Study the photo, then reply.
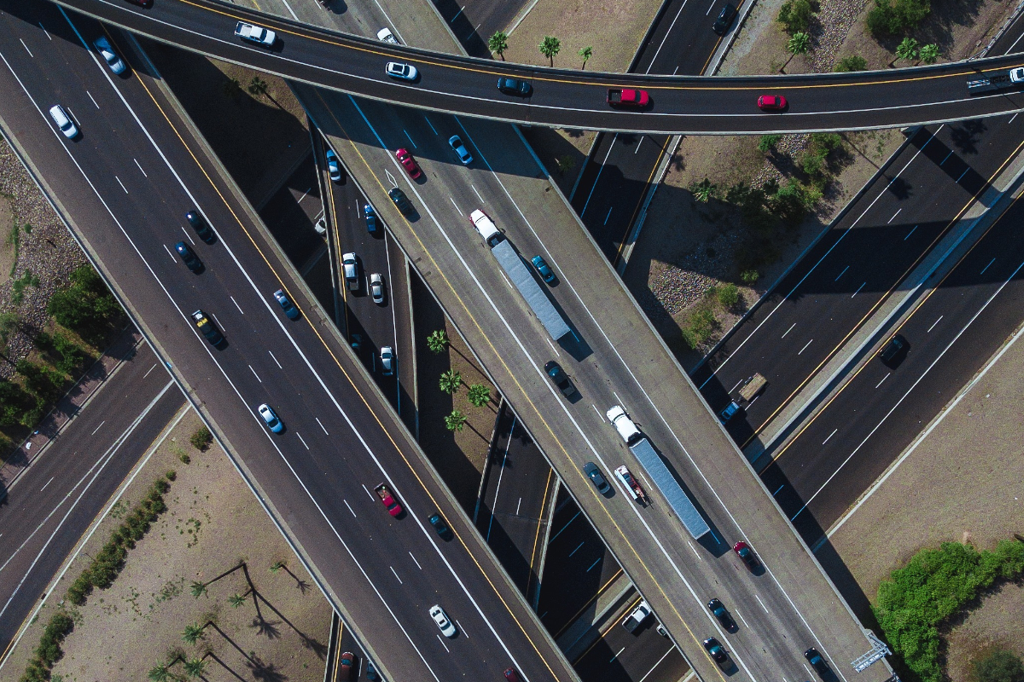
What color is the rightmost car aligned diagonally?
black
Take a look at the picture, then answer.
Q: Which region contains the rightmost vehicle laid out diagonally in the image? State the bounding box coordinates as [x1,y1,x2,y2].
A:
[877,332,909,366]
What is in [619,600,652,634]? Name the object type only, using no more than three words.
truck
